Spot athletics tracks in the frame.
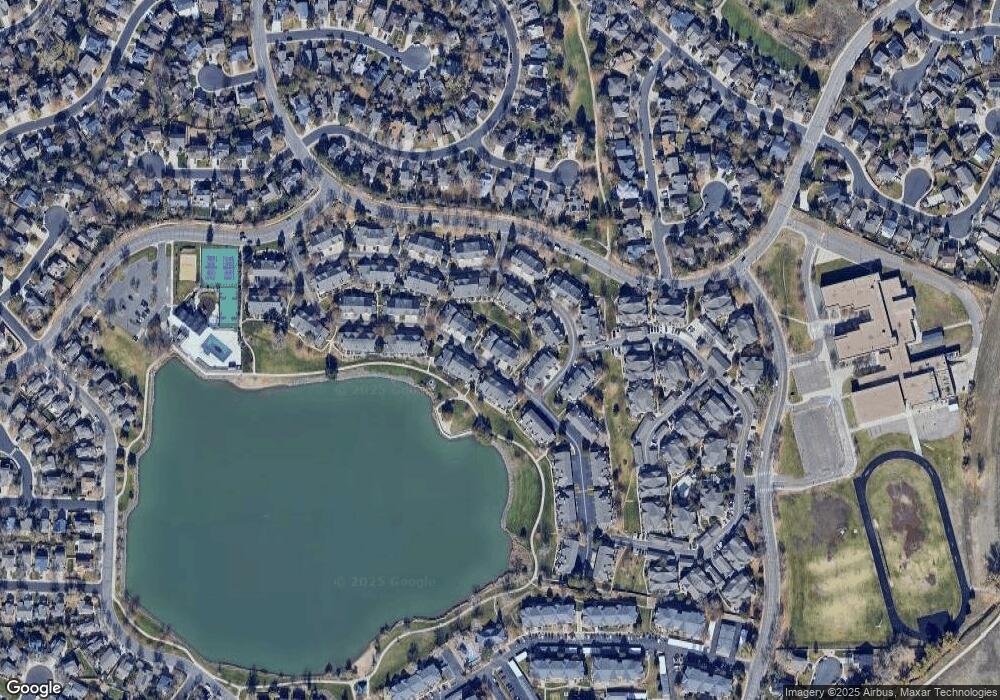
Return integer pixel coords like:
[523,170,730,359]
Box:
[854,448,971,641]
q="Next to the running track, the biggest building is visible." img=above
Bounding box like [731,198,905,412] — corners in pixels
[821,272,954,426]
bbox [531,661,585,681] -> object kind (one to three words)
building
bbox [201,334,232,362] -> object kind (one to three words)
swimming pool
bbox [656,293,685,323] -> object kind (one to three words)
building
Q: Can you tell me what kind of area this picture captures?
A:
residential area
